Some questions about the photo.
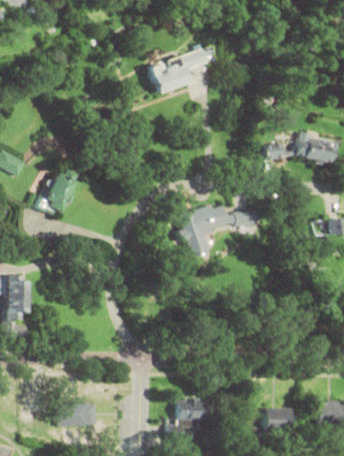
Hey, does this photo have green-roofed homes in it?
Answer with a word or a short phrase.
Yes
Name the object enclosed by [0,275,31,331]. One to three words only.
house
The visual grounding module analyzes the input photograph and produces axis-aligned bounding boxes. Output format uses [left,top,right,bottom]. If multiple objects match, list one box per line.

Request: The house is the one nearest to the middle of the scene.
[178,207,256,260]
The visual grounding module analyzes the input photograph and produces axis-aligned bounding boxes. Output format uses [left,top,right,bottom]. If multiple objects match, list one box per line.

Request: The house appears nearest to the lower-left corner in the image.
[55,402,97,429]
